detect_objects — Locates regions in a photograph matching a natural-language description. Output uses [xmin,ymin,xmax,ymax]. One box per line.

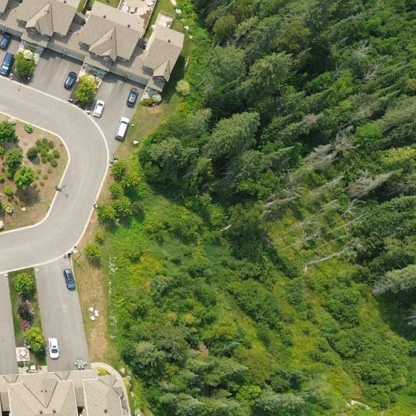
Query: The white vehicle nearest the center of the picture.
[114,118,130,140]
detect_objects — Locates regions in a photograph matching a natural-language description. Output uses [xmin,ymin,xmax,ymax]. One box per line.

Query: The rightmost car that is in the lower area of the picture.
[63,268,77,291]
